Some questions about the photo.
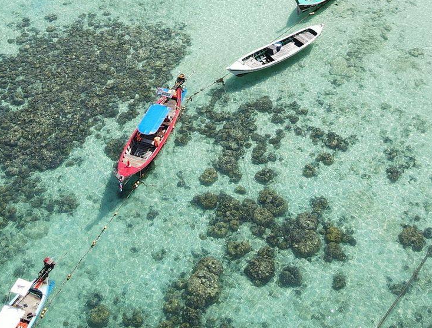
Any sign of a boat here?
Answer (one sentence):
Yes, you can see a boat in this photo.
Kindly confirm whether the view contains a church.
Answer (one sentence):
No, I find no church anywhere in the image.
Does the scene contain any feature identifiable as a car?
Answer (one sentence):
No, this view has no car in it.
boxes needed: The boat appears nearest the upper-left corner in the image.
[116,54,198,186]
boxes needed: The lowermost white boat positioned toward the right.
[231,25,323,73]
